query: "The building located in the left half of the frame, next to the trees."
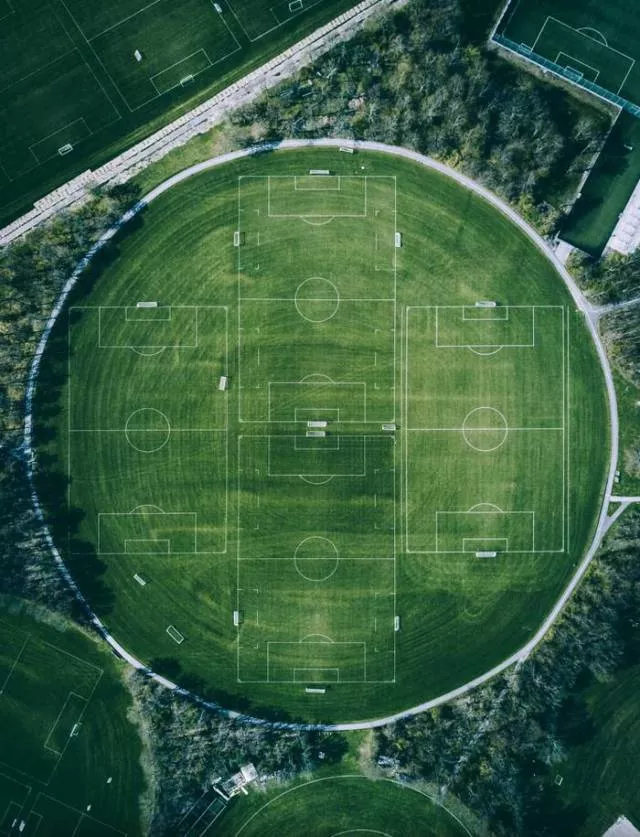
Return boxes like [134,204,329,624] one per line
[222,764,257,799]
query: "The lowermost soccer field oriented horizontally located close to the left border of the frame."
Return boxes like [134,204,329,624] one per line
[19,793,127,837]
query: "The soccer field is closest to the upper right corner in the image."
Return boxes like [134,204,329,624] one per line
[486,0,640,123]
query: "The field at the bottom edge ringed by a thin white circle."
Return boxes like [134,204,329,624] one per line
[228,770,477,837]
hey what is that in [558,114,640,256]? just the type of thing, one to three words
sports field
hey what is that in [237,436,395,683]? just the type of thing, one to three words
soccer field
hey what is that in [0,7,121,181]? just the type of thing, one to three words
soccer field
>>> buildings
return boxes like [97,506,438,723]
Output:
[604,817,640,837]
[222,764,257,799]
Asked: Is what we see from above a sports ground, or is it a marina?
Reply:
sports ground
